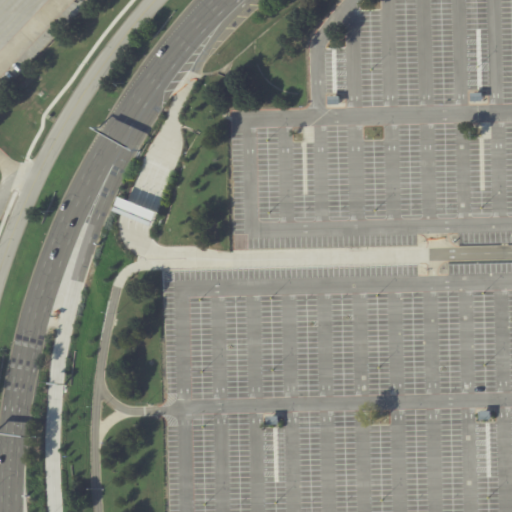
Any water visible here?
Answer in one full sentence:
No, the scene doesn't show any water.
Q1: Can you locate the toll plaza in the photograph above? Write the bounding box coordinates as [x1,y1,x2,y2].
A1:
[114,192,163,226]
